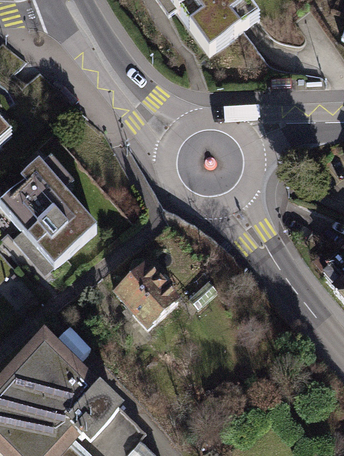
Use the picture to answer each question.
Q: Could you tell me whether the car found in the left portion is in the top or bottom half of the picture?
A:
top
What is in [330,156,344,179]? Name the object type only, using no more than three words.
car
